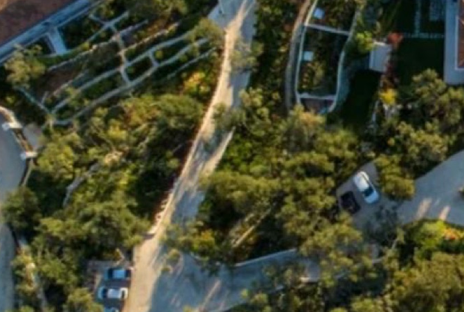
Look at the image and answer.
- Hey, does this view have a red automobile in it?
No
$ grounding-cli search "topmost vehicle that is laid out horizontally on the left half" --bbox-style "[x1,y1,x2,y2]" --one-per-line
[106,267,135,281]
